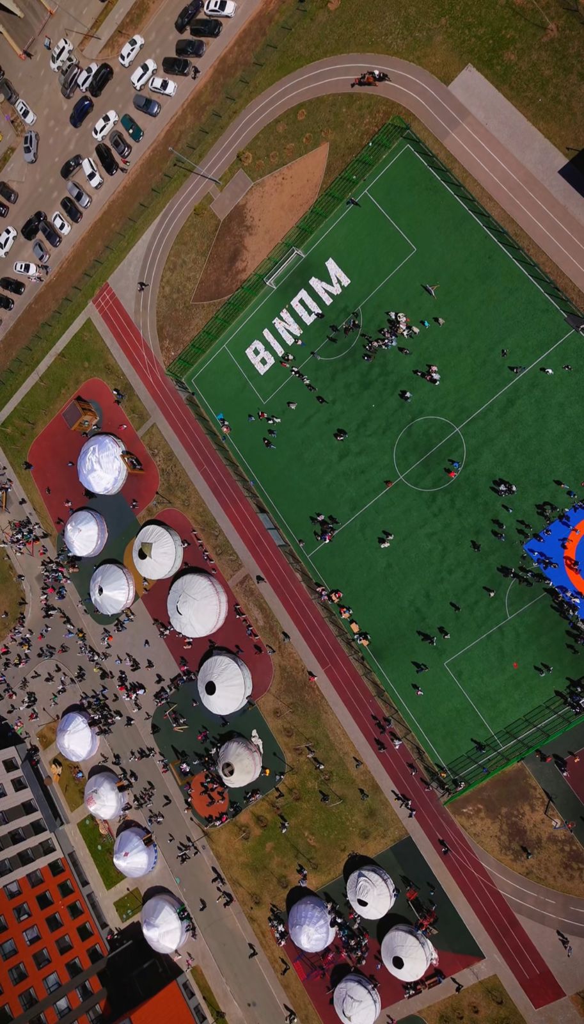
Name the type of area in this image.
sports ground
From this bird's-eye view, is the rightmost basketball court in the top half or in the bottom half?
bottom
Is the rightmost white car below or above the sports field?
above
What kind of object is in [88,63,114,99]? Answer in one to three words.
car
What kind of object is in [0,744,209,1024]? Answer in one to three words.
building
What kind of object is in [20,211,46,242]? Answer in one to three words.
car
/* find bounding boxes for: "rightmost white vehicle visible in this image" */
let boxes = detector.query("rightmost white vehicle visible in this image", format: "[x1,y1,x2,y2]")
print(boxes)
[204,0,236,20]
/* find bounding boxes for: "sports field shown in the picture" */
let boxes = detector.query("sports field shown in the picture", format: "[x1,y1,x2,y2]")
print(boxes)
[182,131,584,795]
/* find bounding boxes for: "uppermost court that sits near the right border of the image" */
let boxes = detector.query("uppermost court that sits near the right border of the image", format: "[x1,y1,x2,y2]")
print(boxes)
[523,724,584,848]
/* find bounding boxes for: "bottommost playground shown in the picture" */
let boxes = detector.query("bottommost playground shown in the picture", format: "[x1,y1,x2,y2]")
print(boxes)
[269,836,486,1024]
